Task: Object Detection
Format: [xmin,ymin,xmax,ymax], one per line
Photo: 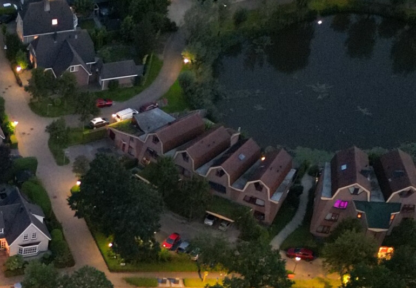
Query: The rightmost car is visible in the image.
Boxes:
[287,248,315,261]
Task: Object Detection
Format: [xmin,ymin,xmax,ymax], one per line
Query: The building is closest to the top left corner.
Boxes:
[9,0,76,48]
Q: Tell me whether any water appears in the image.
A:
Yes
